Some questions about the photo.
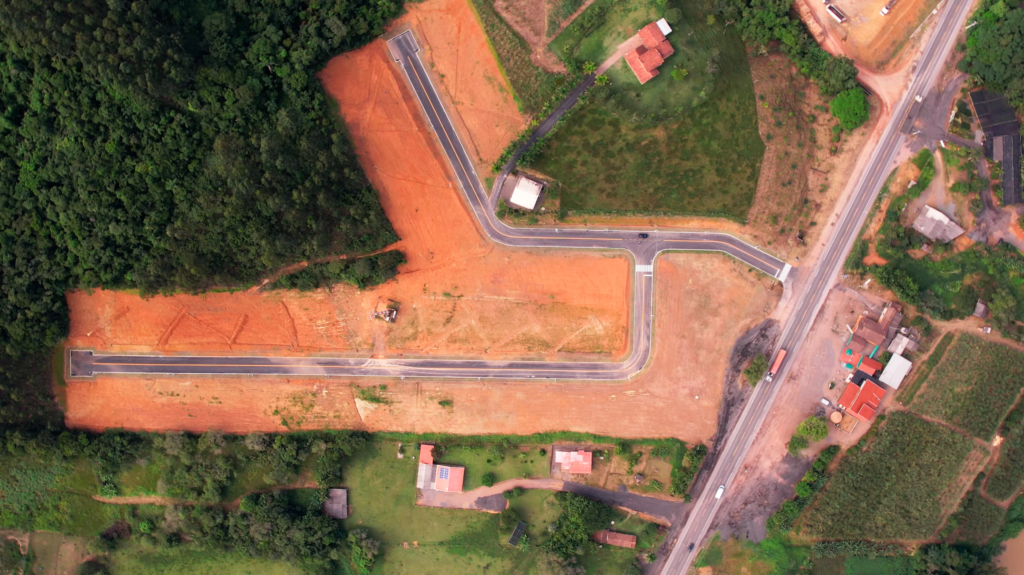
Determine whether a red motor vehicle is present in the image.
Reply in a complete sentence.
Yes, looking at the shot, I can spot a red motor vehicle.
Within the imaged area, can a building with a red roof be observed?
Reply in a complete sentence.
Yes, the photo shows a building with a red roof.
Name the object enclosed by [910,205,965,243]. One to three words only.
building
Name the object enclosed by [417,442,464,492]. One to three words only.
house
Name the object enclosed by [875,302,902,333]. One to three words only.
house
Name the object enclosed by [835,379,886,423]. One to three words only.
building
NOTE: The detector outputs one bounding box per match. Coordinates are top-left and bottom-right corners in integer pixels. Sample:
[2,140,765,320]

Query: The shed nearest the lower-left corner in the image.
[322,488,348,519]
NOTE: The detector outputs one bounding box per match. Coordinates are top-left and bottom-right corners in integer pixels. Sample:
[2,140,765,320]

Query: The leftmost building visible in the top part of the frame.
[510,176,543,209]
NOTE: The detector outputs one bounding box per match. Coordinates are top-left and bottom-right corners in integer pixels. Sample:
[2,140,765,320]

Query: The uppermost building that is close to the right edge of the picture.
[967,89,1019,140]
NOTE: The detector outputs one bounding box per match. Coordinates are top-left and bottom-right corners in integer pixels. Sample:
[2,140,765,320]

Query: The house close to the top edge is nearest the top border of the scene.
[625,18,675,85]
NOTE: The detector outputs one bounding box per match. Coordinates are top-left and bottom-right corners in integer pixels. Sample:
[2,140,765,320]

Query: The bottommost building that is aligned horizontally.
[592,529,636,549]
